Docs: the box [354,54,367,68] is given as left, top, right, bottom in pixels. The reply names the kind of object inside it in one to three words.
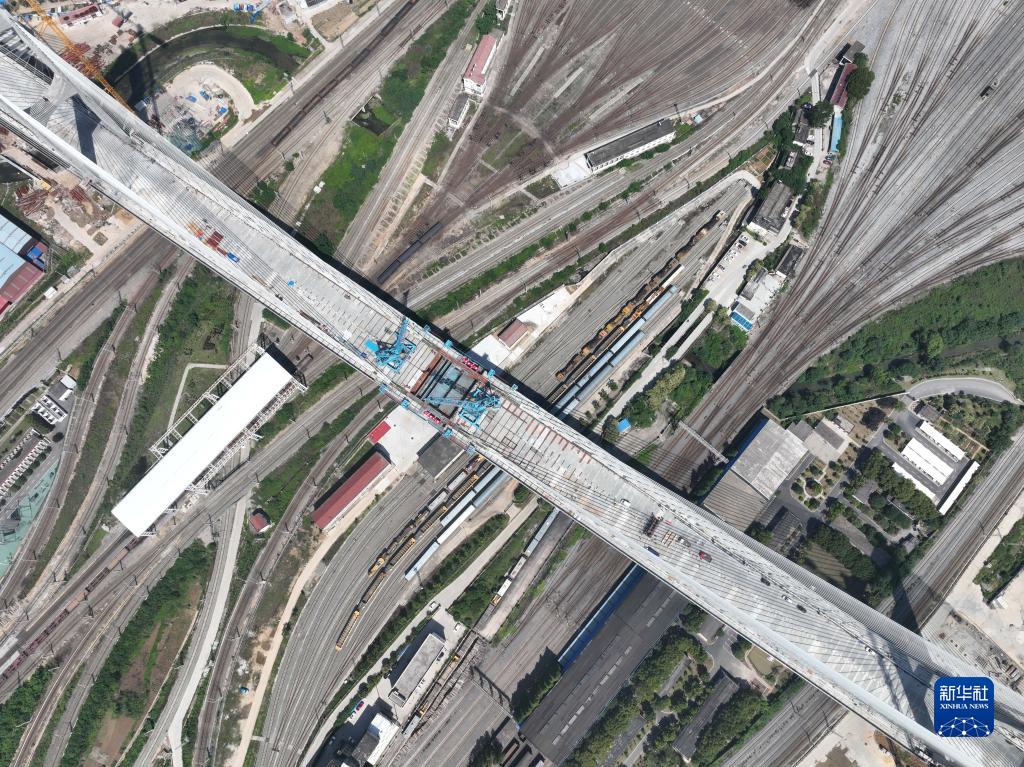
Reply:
rail car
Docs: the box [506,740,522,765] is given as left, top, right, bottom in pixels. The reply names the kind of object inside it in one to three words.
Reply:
rail car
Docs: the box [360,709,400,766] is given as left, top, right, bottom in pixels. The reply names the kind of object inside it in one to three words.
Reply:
building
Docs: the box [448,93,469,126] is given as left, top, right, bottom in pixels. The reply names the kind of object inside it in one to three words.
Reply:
building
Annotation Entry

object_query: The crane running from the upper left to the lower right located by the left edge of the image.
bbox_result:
[14,0,163,136]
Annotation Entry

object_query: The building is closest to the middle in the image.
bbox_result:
[498,318,530,348]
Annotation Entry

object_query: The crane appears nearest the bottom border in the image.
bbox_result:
[427,391,501,429]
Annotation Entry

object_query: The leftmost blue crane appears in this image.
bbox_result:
[374,317,415,371]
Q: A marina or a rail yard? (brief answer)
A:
rail yard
